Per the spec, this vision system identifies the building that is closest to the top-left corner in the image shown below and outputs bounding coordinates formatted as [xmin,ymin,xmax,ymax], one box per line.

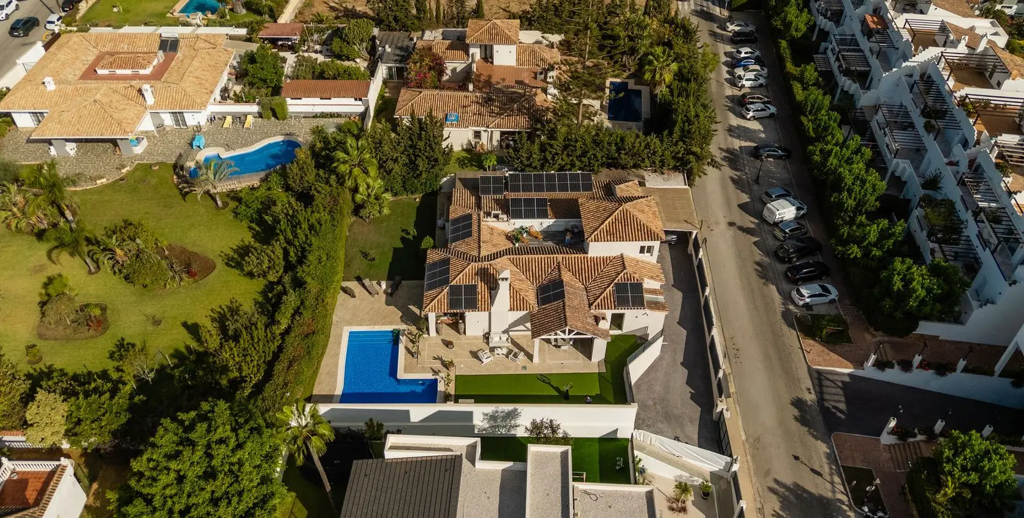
[0,30,235,142]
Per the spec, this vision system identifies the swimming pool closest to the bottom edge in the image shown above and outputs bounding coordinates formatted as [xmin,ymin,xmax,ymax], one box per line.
[337,328,438,401]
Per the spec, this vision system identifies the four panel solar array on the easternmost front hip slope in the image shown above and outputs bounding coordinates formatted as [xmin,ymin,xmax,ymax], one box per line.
[614,283,645,308]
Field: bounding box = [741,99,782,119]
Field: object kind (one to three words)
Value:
car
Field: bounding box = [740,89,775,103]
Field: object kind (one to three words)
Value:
car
